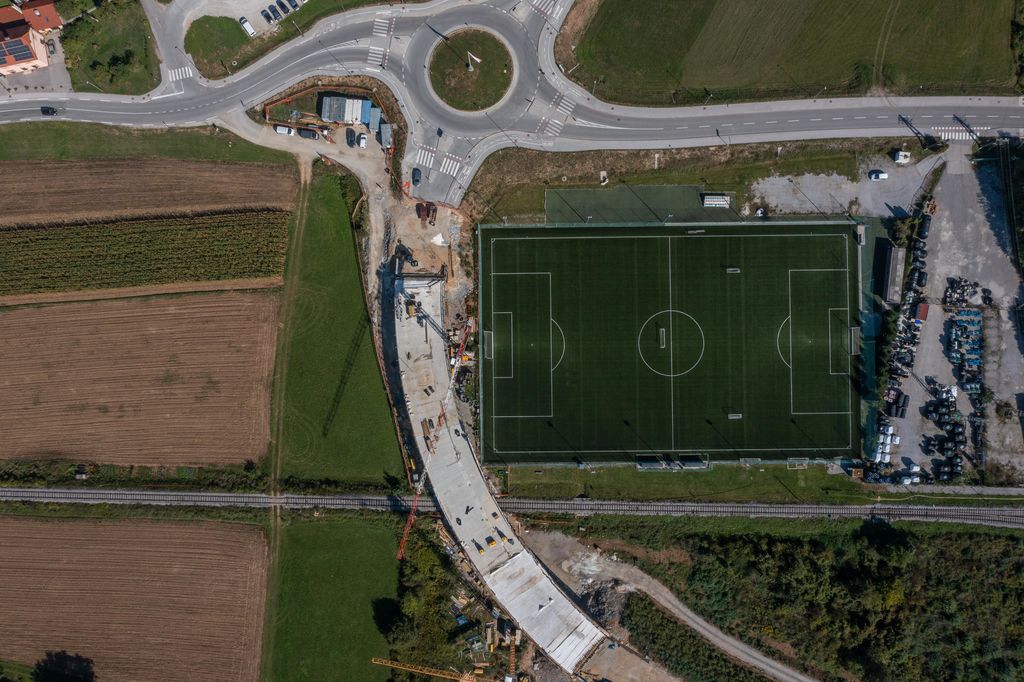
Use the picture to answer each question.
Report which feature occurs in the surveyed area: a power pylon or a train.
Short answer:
power pylon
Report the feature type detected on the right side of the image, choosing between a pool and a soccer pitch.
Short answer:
soccer pitch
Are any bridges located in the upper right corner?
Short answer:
No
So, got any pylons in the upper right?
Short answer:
Yes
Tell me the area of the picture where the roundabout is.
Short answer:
top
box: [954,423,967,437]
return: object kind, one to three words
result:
vehicle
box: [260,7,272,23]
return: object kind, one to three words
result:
vehicle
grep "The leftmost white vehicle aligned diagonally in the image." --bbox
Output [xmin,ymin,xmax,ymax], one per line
[239,17,254,35]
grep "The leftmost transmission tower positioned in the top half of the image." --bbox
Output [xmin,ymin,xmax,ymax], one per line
[920,134,952,155]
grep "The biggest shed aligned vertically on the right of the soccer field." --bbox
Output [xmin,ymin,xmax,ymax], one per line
[879,248,906,303]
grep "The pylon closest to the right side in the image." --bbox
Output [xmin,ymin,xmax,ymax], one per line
[975,133,1009,154]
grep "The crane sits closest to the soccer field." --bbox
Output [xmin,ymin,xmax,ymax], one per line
[399,319,475,558]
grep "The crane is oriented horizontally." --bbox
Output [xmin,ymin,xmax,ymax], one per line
[372,614,521,682]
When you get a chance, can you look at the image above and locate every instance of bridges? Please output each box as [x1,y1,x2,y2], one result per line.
[395,270,609,677]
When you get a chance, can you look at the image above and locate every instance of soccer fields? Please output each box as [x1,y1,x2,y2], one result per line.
[481,222,862,464]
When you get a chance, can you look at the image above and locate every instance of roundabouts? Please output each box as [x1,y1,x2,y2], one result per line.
[403,4,538,137]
